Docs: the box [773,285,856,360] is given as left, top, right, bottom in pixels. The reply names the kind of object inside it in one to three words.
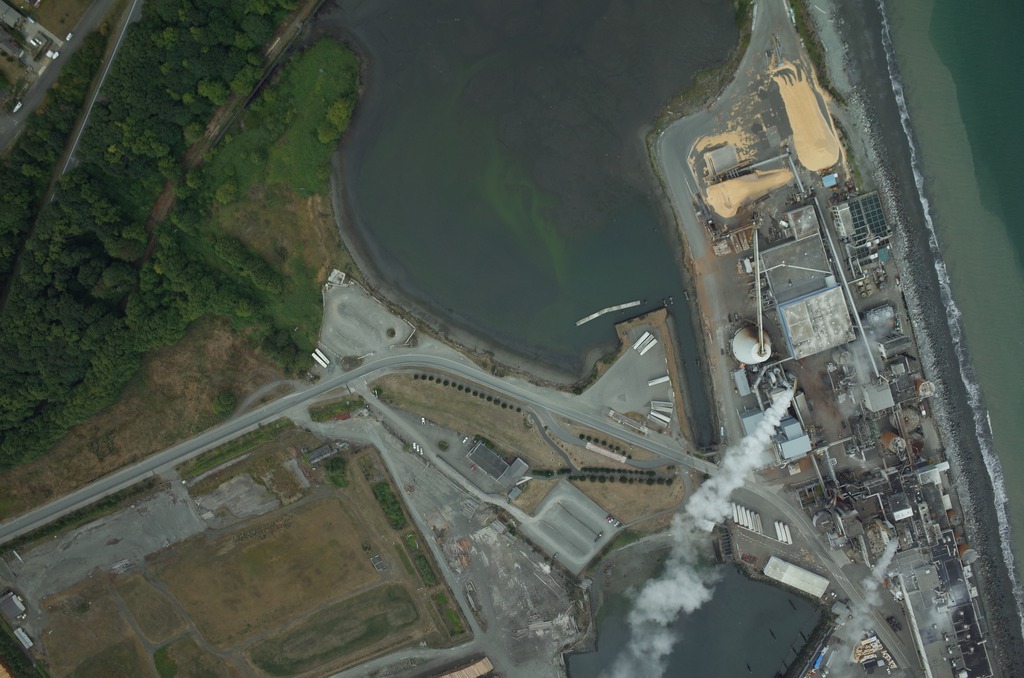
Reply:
building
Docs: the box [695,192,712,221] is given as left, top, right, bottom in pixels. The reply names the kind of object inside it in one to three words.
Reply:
vehicle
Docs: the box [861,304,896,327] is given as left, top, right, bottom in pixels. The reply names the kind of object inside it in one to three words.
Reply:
cooling tower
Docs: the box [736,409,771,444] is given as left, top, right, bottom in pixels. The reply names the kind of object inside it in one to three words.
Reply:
building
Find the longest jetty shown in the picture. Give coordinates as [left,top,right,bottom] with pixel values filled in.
[576,300,641,327]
